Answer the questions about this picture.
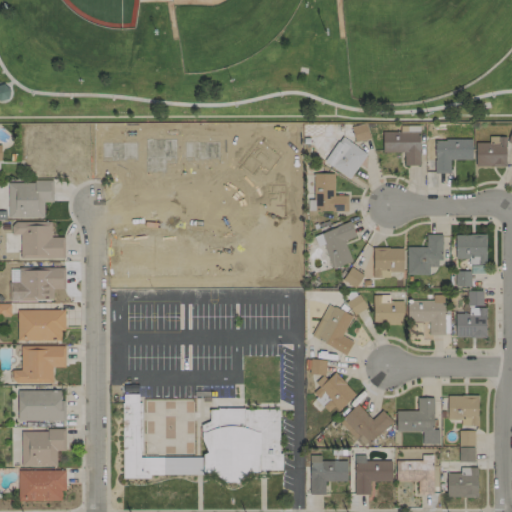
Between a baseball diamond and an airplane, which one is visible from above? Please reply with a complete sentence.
Looking from above, you can make out a baseball diamond.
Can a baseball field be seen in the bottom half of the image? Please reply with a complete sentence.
No, no baseball field appears in the bottom half of the image.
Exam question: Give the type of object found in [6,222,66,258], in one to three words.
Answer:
house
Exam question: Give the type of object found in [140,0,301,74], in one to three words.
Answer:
baseball field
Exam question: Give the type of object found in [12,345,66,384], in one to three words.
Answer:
house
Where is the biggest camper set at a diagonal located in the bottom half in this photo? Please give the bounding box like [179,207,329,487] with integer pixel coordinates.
[350,390,369,409]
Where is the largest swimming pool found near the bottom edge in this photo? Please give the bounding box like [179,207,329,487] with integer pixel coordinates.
[0,472,18,490]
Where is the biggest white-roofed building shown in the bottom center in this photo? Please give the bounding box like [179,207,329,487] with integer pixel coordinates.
[124,384,284,486]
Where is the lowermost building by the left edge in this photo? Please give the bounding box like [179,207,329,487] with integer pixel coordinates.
[19,469,67,502]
